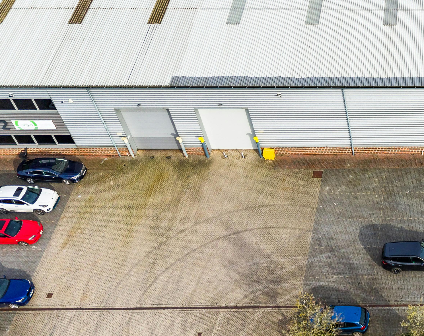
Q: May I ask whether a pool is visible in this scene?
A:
No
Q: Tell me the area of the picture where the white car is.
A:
left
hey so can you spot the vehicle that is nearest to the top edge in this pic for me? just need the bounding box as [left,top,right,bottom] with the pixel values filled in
[16,154,89,183]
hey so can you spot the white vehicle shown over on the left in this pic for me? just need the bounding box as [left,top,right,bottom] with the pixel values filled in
[0,182,62,214]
